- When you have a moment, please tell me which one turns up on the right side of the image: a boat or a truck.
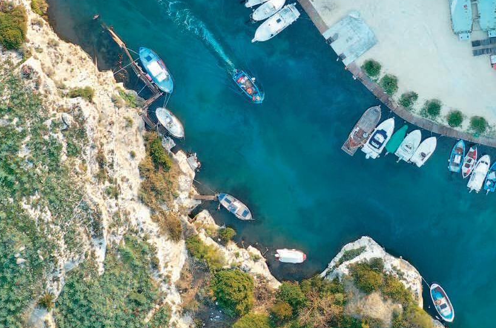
boat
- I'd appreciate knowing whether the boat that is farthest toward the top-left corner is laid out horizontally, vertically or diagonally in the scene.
diagonally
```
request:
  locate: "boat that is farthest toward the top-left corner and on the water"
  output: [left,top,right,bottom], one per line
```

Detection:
[132,49,173,106]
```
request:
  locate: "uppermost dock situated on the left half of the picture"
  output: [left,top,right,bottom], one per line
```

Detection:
[98,20,164,92]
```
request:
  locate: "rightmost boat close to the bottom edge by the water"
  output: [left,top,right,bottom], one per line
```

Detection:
[422,277,454,322]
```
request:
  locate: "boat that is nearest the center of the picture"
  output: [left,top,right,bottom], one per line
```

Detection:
[218,193,252,220]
